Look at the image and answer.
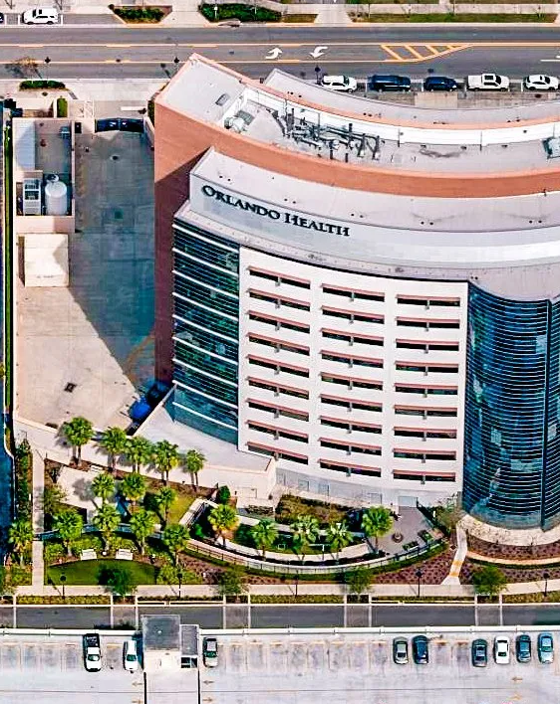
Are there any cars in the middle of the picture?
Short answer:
No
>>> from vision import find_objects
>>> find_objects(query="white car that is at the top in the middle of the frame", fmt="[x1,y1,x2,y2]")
[320,74,357,91]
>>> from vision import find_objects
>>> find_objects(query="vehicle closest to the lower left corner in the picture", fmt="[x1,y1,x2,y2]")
[84,634,100,671]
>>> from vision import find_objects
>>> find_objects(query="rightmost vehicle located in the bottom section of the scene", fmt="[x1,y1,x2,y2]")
[538,634,555,664]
